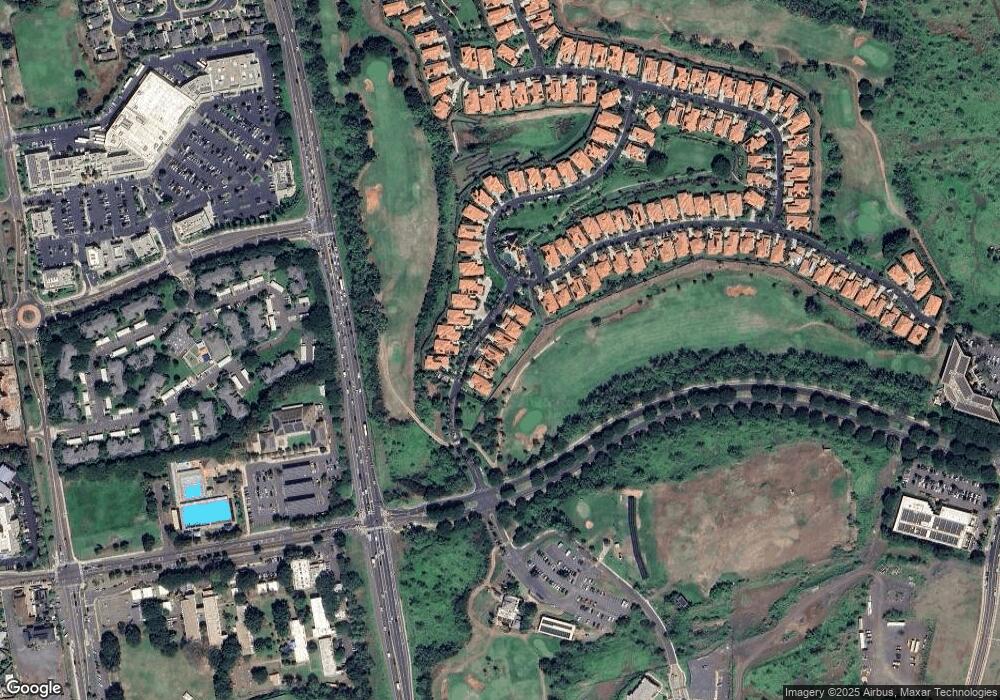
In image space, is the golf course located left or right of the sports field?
to the right of it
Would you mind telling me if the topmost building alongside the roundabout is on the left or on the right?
left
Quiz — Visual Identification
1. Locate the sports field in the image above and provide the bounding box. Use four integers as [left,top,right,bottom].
[15,2,83,115]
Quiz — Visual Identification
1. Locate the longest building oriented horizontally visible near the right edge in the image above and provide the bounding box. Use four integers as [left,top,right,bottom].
[894,496,983,549]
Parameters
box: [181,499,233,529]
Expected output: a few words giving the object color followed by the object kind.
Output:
blue swimming pool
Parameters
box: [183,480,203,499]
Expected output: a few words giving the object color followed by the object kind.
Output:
blue swimming pool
